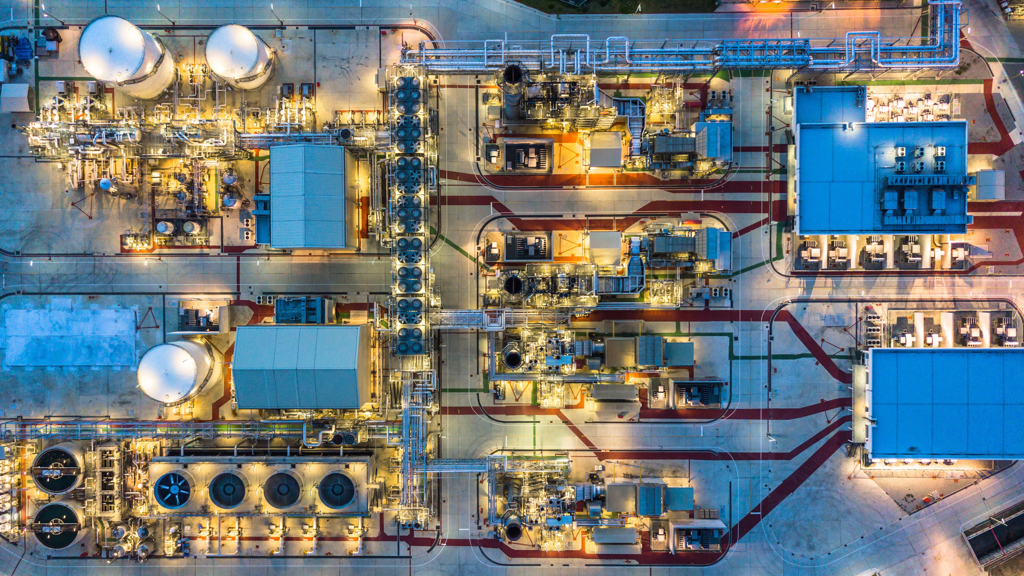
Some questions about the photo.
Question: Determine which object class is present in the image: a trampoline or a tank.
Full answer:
Of the two, only a tank appears.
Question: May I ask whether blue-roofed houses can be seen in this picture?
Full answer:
Yes, there's a blue-roofed house here.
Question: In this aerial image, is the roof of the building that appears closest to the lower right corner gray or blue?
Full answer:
The color of the roof of the building that appears closest to the lower right corner is blue.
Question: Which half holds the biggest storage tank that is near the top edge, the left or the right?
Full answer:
You can find the biggest storage tank that is near the top edge on the left side of the picture.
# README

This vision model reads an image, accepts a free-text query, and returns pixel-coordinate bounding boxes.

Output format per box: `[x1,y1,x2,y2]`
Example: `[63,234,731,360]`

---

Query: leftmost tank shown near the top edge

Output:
[74,12,177,102]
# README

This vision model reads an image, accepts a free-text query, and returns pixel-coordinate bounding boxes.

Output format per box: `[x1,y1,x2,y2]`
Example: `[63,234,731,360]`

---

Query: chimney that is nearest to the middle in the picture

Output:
[498,270,528,300]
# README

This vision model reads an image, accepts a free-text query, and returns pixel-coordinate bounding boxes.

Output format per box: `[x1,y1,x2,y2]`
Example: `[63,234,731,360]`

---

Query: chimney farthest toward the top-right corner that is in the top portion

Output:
[498,64,528,119]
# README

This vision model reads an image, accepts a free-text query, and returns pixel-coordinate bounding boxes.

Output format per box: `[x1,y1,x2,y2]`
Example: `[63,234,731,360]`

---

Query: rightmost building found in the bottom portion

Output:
[846,346,1024,459]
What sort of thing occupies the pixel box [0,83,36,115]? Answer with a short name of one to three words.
shed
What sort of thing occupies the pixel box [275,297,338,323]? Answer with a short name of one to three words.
building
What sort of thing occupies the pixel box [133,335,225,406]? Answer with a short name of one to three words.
storage tank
